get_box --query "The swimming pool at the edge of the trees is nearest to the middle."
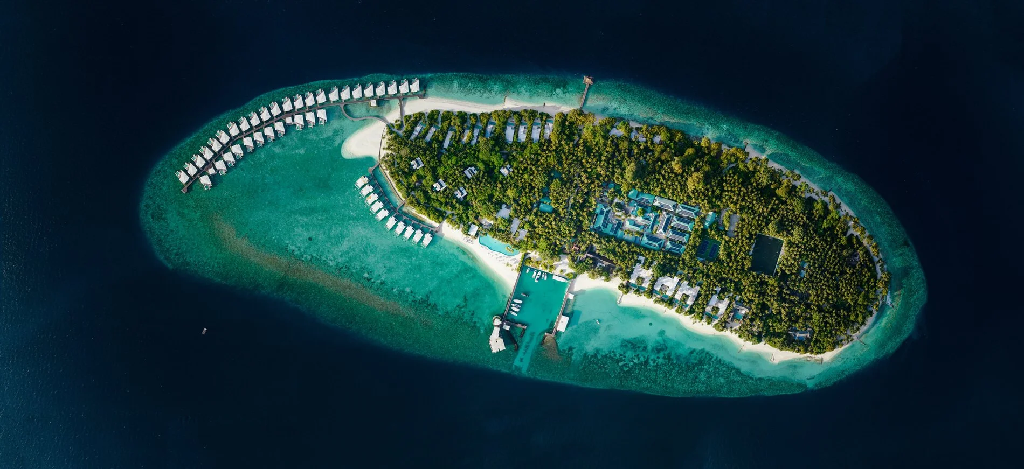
[479,234,520,256]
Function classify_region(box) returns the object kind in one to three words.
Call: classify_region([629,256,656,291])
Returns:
house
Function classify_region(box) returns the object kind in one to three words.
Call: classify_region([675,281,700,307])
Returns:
house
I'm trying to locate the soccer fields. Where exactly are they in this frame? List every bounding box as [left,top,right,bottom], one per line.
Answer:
[750,234,785,276]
